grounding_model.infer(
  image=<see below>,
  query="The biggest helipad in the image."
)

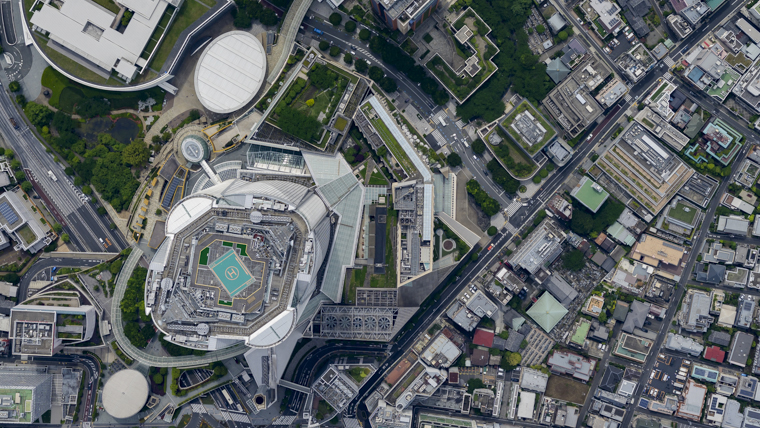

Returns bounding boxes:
[191,233,269,314]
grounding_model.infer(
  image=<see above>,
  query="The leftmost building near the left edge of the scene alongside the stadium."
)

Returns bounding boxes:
[20,0,234,94]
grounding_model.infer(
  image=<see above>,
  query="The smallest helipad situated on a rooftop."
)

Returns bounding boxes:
[209,250,255,296]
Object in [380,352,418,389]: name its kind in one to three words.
building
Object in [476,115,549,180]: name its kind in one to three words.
building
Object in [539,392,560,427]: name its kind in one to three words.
house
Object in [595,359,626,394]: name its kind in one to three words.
house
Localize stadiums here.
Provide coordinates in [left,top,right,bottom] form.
[193,30,267,113]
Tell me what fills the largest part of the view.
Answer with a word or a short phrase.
buildings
